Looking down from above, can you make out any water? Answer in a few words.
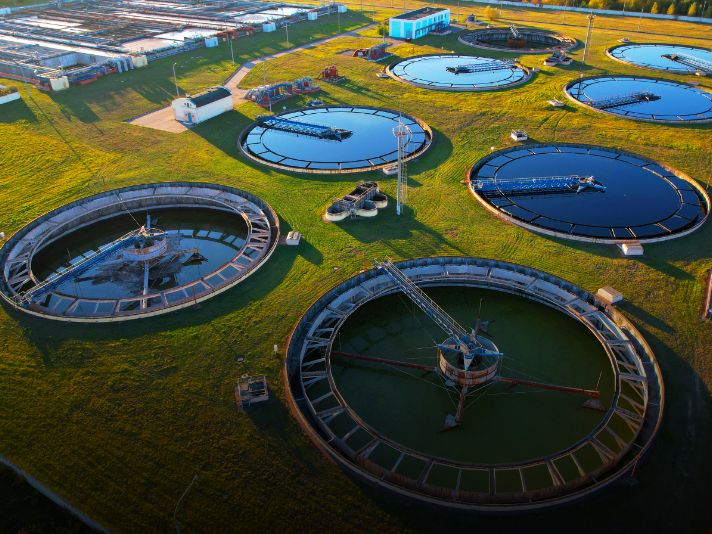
Yes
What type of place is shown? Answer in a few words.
industrial area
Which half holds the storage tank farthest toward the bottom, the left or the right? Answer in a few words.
right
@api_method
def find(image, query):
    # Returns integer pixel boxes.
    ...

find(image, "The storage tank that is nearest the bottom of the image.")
[286,257,665,512]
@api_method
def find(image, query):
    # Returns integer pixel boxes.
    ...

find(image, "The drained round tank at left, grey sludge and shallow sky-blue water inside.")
[0,182,282,323]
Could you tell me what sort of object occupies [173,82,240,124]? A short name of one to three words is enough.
shed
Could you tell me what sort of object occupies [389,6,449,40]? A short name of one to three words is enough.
building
